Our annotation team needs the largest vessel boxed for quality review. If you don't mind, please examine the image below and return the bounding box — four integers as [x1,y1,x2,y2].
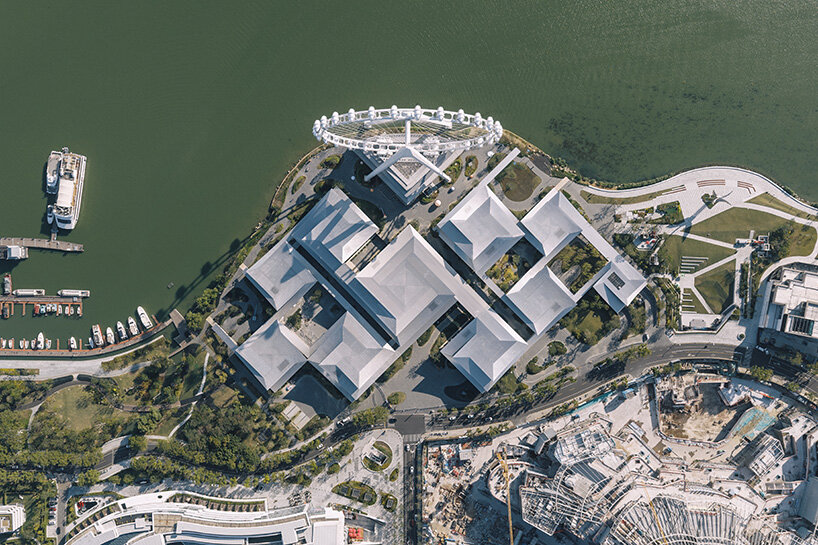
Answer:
[53,149,85,228]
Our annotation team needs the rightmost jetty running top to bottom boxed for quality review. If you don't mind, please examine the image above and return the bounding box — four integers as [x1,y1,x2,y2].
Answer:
[169,309,189,346]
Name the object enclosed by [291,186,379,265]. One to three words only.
building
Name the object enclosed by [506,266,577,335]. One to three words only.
building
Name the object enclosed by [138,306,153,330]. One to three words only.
boat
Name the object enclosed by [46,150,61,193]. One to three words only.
boat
